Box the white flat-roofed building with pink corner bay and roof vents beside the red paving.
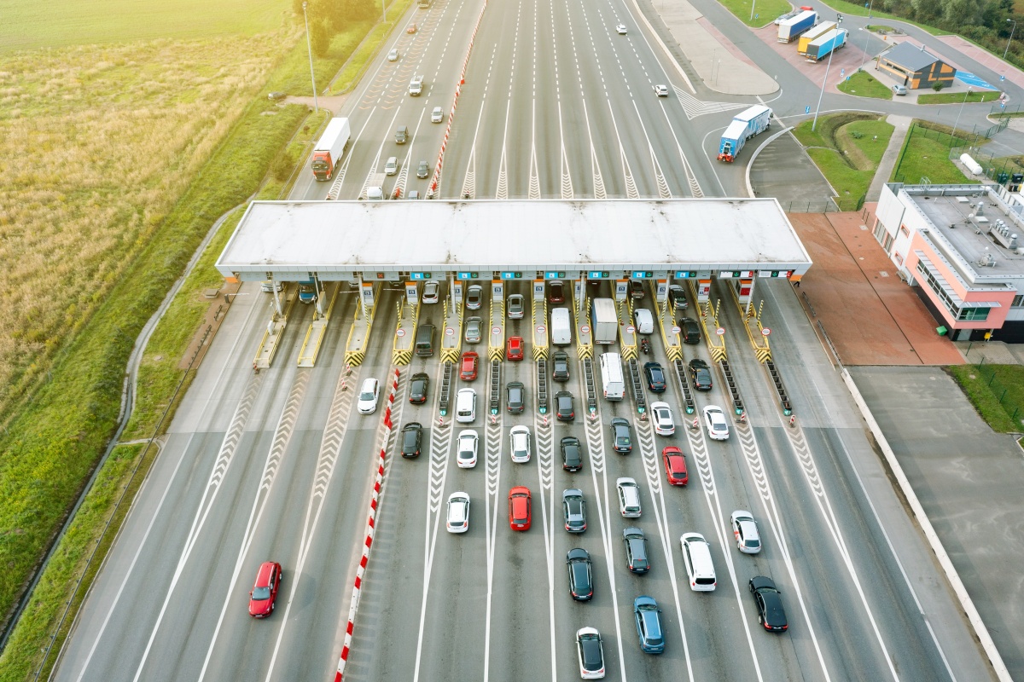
[871,174,1024,339]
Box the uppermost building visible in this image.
[873,41,959,88]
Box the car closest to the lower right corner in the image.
[754,579,785,633]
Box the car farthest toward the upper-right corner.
[893,82,909,94]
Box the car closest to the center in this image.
[506,335,525,361]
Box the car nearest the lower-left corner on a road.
[249,563,283,619]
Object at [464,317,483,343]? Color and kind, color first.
gray car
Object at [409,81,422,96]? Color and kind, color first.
white vehicle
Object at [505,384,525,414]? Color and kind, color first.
gray car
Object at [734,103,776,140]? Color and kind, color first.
white truck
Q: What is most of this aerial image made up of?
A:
paved ground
